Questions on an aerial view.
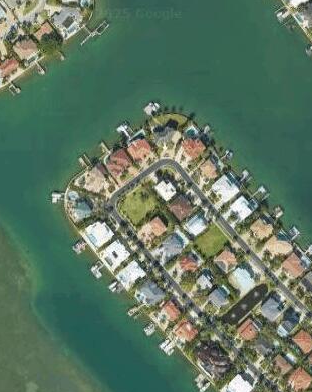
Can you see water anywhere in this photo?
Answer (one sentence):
Yes, water shows up in the scene.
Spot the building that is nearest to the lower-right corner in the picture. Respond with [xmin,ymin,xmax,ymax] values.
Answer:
[289,366,312,392]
